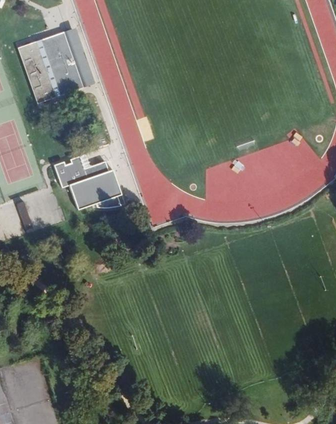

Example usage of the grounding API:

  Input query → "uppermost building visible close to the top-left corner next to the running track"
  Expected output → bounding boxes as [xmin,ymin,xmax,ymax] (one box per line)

[18,28,95,104]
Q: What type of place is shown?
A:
sports ground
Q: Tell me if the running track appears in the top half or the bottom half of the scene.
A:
top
